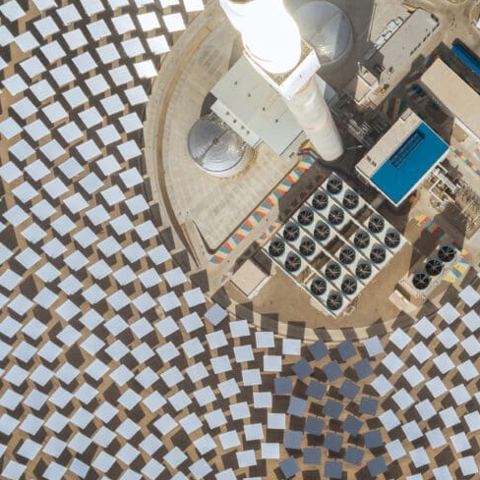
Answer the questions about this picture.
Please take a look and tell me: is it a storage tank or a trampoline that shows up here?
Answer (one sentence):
Visible in the photo is a storage tank.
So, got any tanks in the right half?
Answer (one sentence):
Yes, looking in the right half, one can make out a tank.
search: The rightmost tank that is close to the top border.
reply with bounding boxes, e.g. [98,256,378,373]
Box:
[297,1,359,71]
